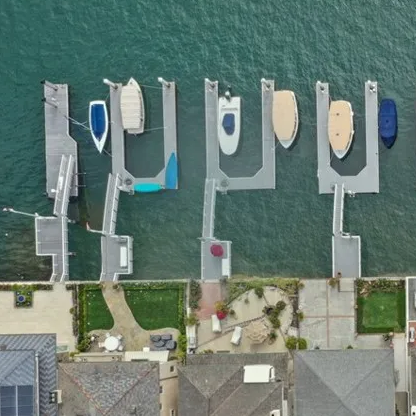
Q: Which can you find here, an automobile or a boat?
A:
boat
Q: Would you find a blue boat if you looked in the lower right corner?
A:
No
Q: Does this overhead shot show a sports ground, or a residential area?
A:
residential area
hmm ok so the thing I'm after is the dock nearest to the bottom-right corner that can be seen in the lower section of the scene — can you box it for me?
[331,236,362,278]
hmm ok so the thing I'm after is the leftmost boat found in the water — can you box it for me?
[70,101,114,157]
